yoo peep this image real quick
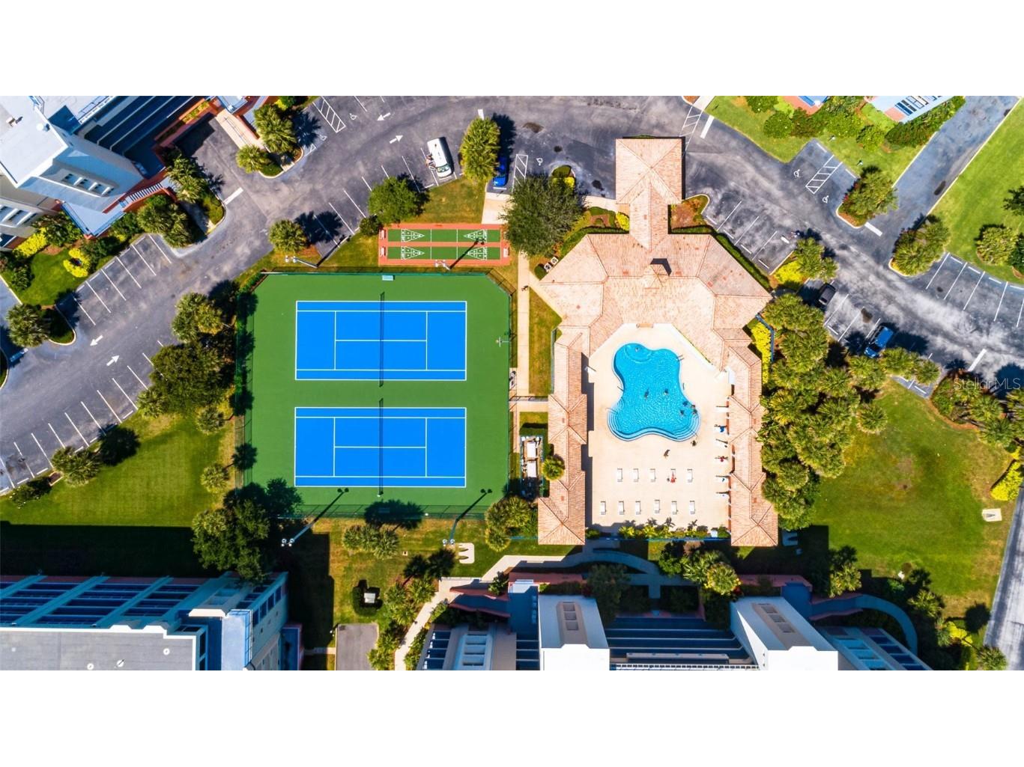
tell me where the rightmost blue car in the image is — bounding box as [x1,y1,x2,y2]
[861,325,893,358]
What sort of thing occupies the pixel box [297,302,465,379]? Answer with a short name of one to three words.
tennis court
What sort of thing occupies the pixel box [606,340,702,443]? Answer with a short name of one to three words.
swimming pool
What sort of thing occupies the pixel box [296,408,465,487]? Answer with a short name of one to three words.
tennis court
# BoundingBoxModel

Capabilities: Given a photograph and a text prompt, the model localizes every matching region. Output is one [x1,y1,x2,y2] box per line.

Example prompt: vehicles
[428,137,452,182]
[861,325,893,358]
[493,157,509,191]
[810,279,840,313]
